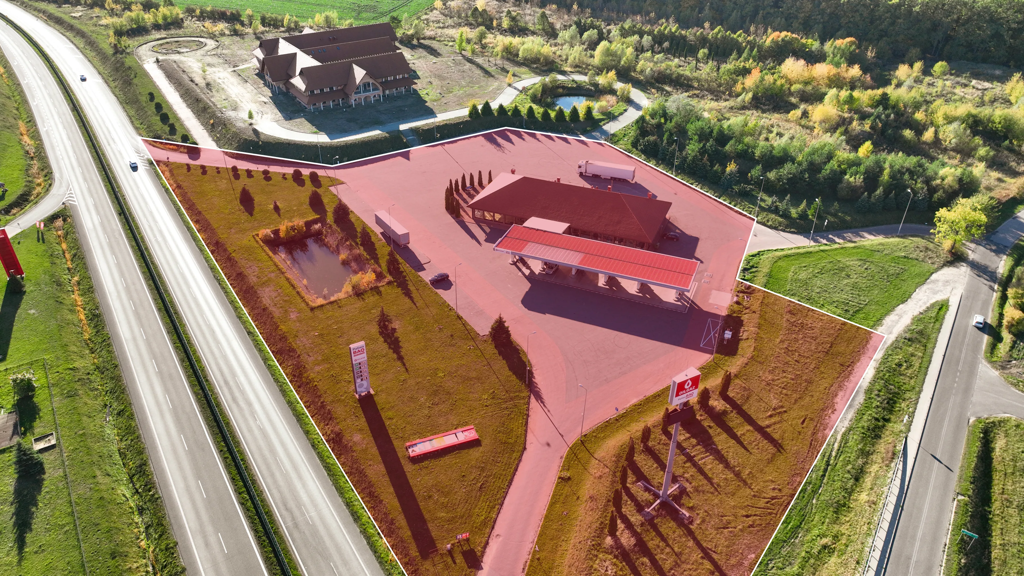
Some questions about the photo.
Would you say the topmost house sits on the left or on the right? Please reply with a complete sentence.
The topmost house is on the left side of the image.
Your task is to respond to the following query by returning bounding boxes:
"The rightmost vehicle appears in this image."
[973,316,987,330]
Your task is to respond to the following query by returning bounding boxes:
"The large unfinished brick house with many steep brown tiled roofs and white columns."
[246,21,423,112]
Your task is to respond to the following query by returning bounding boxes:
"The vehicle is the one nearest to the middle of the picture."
[545,263,559,275]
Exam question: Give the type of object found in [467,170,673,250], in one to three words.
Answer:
building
